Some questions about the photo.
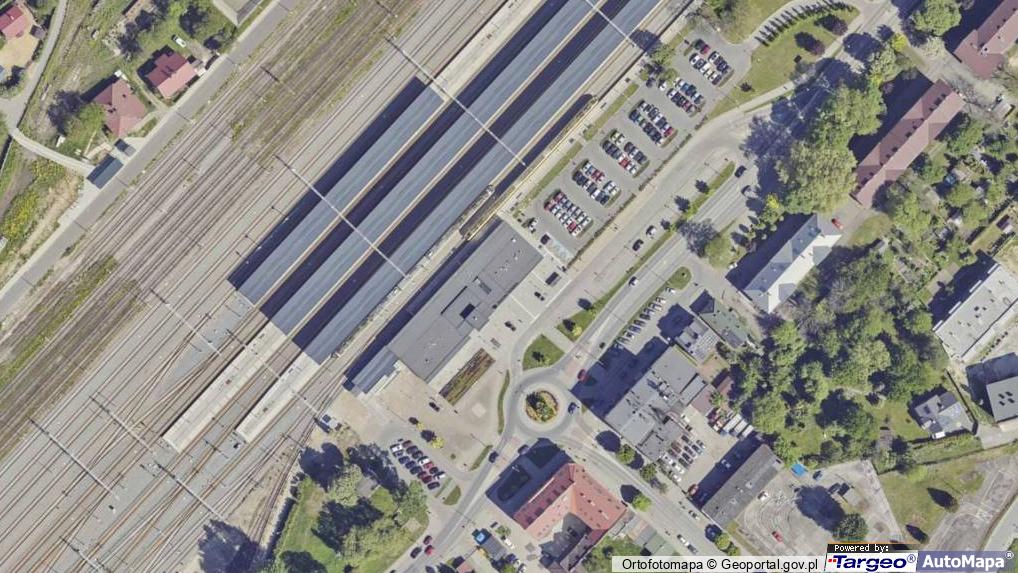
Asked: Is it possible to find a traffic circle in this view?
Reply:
Yes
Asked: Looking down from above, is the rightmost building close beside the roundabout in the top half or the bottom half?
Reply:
bottom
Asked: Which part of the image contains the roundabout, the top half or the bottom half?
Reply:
bottom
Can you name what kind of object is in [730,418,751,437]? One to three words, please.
vehicle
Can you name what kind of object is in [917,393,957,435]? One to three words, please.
house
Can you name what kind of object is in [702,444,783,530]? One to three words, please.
building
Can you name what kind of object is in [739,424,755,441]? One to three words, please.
vehicle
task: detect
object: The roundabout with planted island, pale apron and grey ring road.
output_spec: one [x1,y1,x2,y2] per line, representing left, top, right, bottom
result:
[508,372,577,441]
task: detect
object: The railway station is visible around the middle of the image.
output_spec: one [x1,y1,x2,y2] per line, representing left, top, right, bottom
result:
[163,0,662,454]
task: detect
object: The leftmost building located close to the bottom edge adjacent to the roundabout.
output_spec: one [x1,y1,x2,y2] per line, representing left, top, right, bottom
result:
[512,464,627,572]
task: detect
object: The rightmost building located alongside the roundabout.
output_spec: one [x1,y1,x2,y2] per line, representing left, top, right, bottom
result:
[605,344,709,462]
